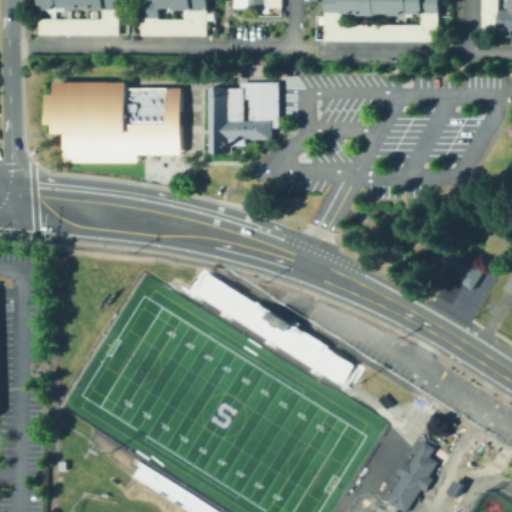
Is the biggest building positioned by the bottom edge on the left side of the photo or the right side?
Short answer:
right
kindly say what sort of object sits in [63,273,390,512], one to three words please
sports field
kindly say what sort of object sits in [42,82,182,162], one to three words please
building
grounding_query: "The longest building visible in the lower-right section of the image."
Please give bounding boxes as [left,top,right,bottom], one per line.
[386,439,438,507]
